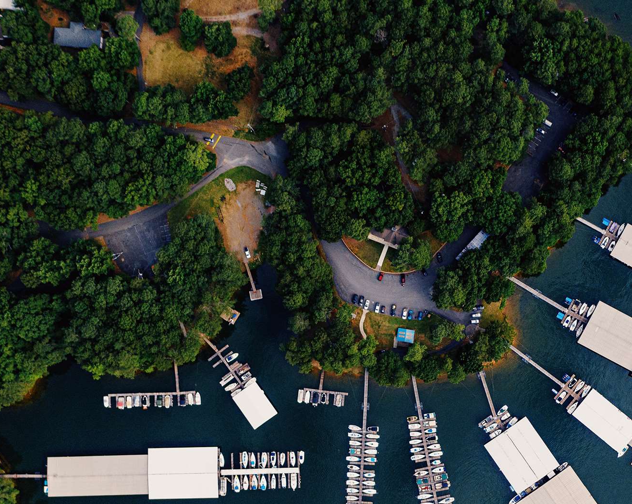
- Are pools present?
No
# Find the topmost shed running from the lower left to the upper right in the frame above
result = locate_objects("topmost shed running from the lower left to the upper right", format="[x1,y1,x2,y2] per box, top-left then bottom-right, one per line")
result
[457,230,489,264]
